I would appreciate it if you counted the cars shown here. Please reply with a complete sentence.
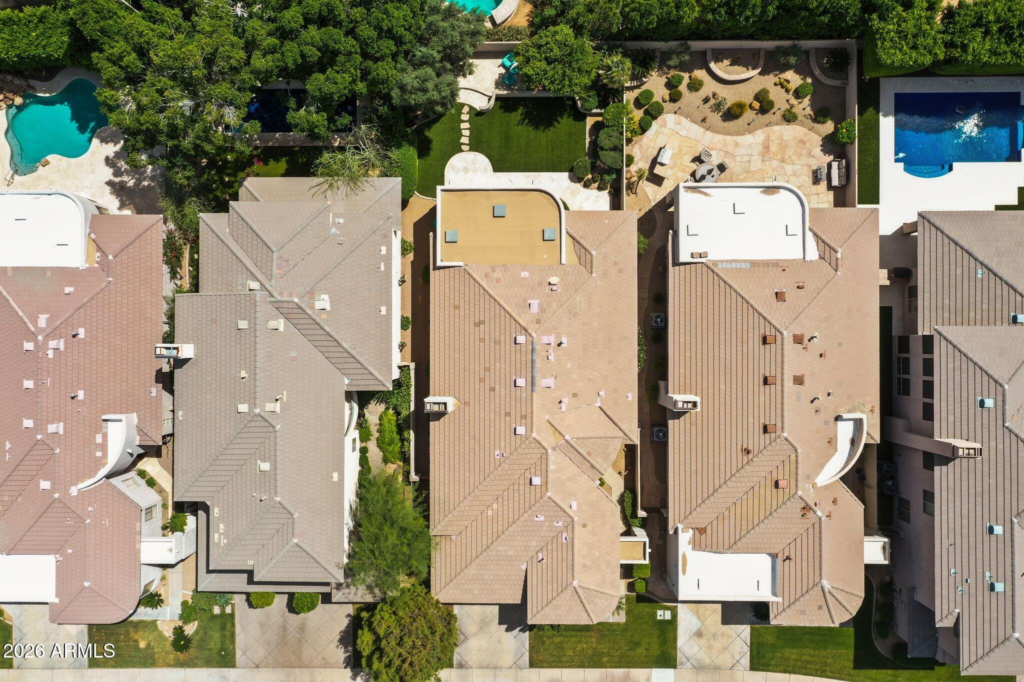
Not a single car can be seen.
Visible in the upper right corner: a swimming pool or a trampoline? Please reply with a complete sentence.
It is a swimming pool that can be seen in the upper right corner.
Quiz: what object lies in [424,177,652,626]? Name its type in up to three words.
house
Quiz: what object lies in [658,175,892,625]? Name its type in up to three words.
house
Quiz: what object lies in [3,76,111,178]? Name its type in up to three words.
swimming pool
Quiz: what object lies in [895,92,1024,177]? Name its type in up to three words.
swimming pool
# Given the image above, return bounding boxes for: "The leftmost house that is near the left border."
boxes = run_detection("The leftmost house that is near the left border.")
[0,191,184,627]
